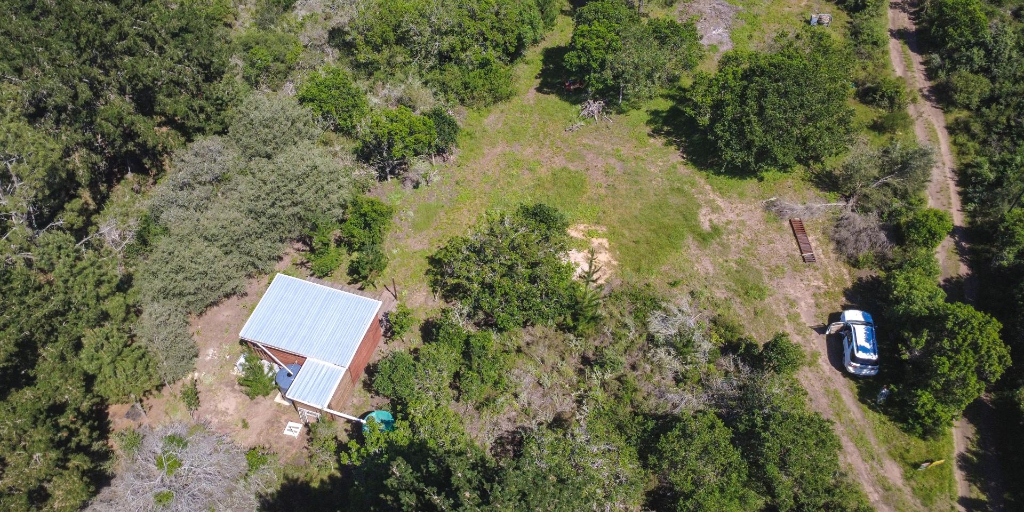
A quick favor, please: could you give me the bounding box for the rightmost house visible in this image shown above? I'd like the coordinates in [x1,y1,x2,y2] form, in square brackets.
[239,270,381,424]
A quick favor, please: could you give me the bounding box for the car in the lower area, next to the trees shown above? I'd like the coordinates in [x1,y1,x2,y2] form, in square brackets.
[826,310,880,379]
